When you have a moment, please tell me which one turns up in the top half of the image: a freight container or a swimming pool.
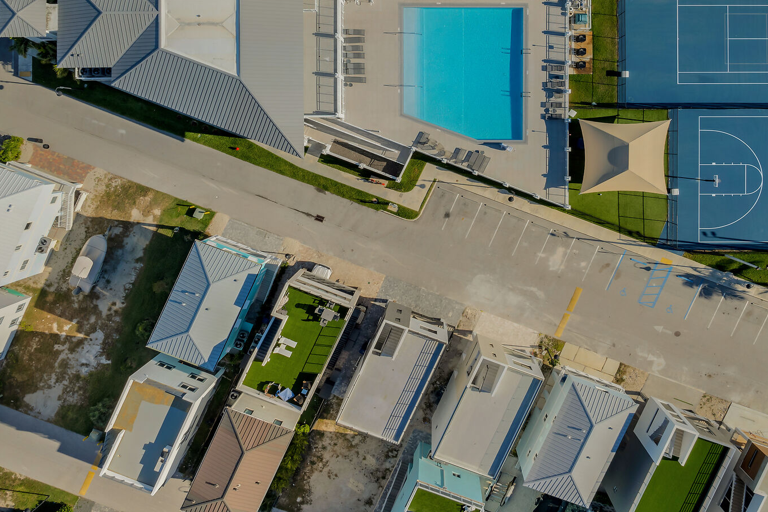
swimming pool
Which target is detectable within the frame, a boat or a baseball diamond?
boat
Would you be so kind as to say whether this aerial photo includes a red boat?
No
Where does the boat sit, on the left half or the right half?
left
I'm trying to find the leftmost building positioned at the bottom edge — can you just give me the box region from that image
[100,353,223,495]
